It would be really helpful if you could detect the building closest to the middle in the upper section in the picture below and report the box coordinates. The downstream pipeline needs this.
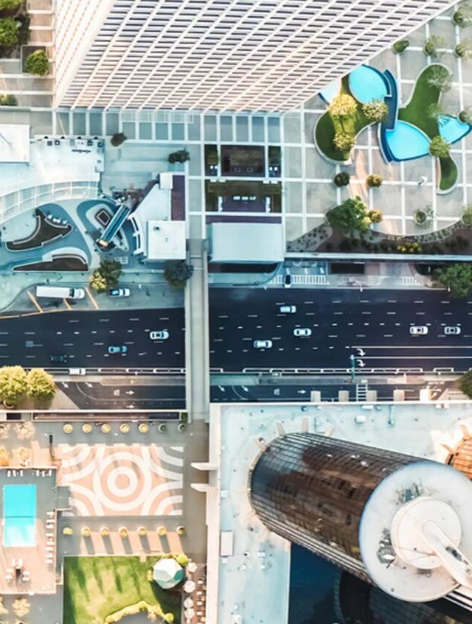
[206,222,285,261]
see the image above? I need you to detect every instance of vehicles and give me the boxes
[283,271,292,288]
[50,354,67,362]
[150,331,167,340]
[293,329,310,336]
[66,368,87,375]
[443,326,461,334]
[36,288,83,298]
[409,326,428,334]
[109,345,125,354]
[108,289,130,296]
[254,340,271,348]
[278,305,296,314]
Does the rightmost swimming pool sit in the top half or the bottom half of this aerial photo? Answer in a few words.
top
